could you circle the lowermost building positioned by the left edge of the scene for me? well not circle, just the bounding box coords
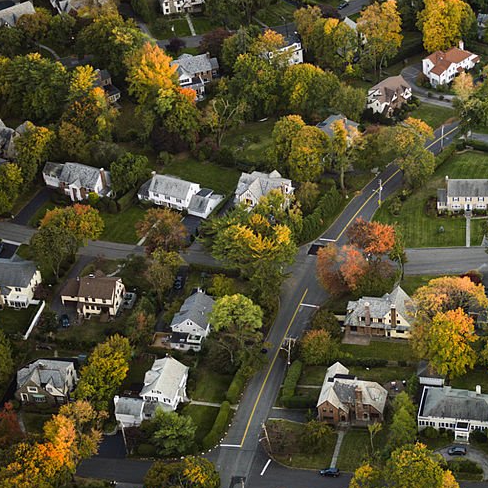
[13,358,82,411]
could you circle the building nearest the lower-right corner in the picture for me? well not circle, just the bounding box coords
[417,378,488,453]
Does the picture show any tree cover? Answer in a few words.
Yes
